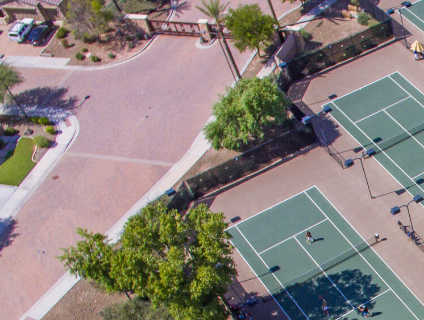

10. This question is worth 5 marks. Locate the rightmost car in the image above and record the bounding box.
[22,24,52,47]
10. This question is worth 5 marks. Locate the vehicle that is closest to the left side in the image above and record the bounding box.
[0,18,33,42]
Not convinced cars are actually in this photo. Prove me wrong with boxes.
[0,18,33,42]
[22,24,52,47]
